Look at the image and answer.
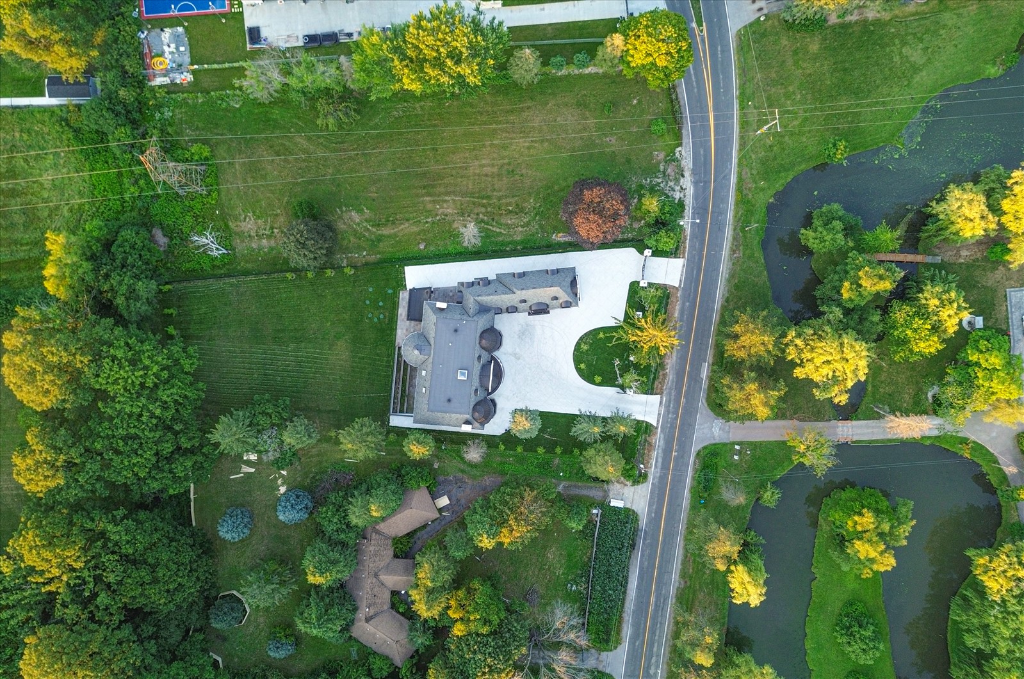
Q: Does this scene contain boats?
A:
No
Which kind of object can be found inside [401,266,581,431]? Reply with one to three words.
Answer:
house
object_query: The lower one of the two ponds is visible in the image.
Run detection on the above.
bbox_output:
[725,441,998,679]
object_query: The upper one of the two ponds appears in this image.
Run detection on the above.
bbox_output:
[764,48,1024,418]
